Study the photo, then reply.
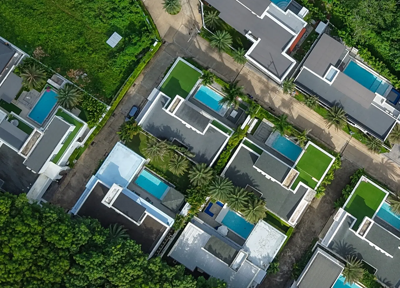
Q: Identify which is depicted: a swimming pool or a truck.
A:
swimming pool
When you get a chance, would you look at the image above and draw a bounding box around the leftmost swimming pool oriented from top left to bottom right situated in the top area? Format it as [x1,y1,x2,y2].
[192,83,231,119]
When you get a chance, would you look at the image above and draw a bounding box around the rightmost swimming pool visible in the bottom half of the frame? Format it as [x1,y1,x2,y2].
[377,202,400,232]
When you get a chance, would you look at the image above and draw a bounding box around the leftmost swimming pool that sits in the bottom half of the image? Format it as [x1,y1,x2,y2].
[133,169,172,201]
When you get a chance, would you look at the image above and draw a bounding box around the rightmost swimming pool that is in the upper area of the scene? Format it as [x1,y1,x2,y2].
[386,85,400,107]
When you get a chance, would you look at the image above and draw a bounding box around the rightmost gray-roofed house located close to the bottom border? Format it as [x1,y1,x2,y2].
[320,174,400,288]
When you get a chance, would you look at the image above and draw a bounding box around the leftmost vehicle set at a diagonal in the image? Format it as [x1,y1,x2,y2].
[123,103,140,125]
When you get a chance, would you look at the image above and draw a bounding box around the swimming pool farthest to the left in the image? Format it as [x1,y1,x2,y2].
[25,86,61,127]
